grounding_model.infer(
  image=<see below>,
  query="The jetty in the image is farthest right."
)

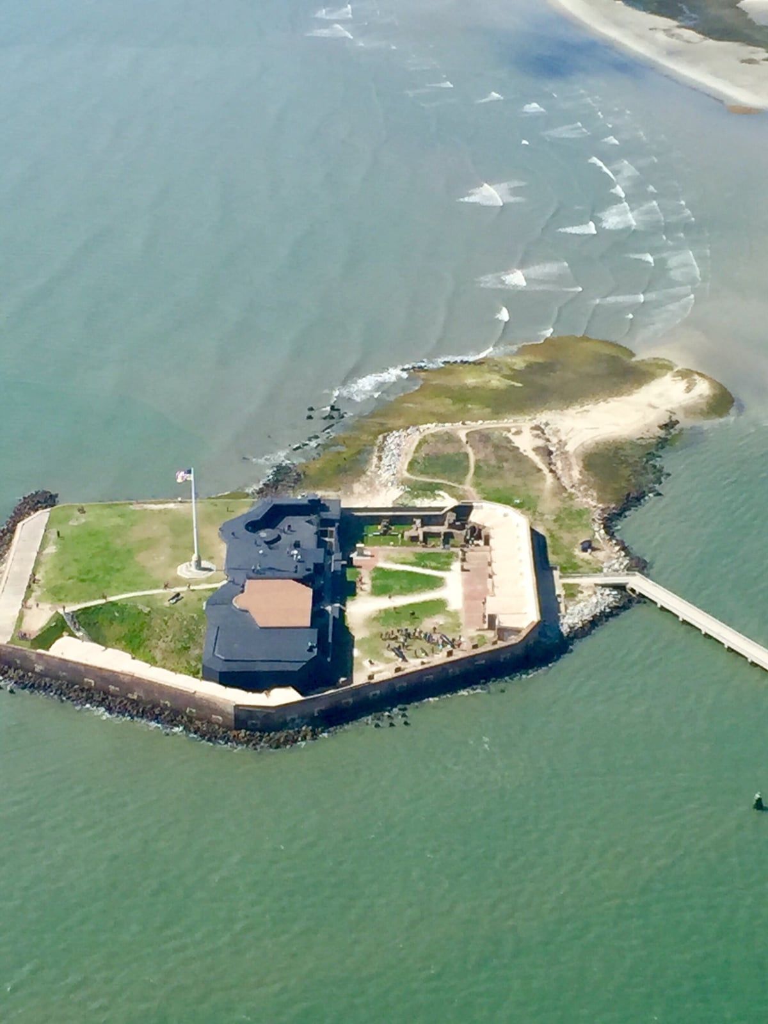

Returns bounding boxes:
[560,573,768,683]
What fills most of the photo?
water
